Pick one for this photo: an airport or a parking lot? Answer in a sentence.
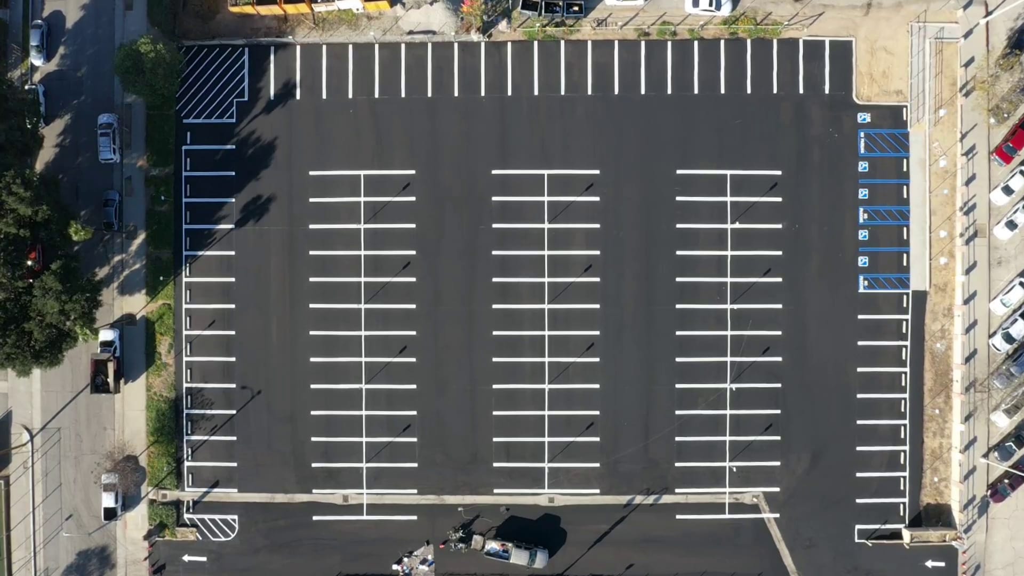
What you see here is a parking lot.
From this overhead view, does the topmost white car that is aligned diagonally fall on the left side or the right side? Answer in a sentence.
The topmost white car that is aligned diagonally appears in the right half of the scene.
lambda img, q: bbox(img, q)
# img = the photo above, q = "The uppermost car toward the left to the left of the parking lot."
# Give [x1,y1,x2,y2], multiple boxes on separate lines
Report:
[26,19,51,67]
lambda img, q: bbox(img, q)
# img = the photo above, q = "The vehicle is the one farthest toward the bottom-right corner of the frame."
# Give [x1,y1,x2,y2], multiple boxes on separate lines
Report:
[986,466,1024,504]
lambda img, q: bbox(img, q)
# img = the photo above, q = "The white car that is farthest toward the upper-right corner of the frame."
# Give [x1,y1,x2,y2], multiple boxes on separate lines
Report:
[988,163,1024,206]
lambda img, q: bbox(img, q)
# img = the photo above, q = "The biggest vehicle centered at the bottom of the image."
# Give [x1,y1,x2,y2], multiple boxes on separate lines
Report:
[485,536,546,567]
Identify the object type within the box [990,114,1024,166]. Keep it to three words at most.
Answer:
truck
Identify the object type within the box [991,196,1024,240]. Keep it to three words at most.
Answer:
car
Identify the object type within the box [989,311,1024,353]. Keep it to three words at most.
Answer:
car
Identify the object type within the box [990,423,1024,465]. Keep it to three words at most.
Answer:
truck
